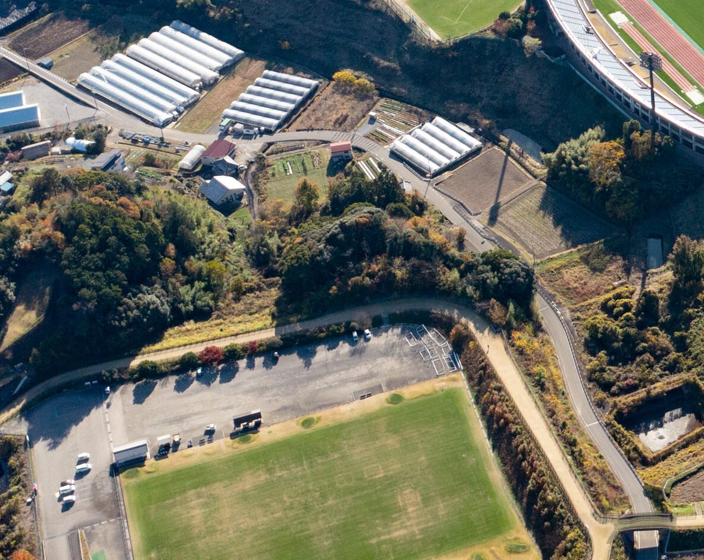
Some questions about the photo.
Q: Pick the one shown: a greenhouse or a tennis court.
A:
greenhouse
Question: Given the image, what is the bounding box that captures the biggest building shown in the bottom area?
[112,443,148,472]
